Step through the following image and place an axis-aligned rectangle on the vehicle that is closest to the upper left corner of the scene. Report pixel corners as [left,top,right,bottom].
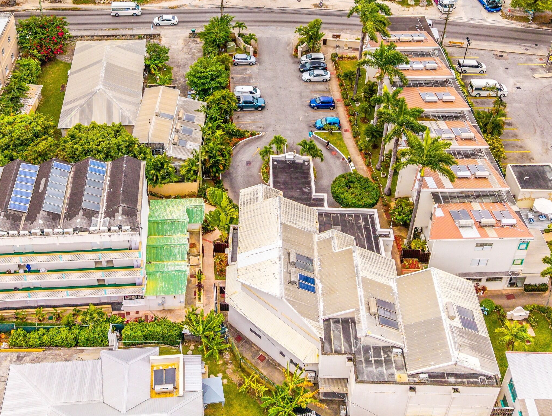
[111,1,141,16]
